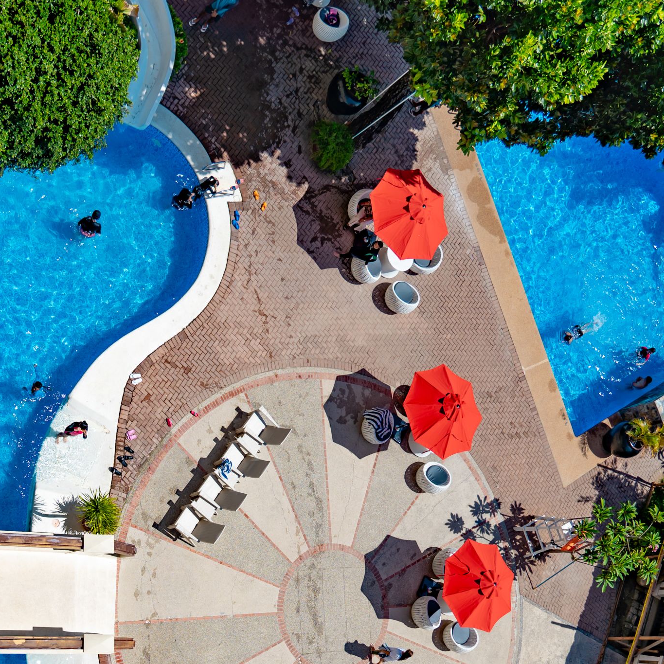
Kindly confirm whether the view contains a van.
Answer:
No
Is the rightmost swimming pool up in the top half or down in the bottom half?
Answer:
top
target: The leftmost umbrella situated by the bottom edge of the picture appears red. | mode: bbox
[442,539,514,632]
